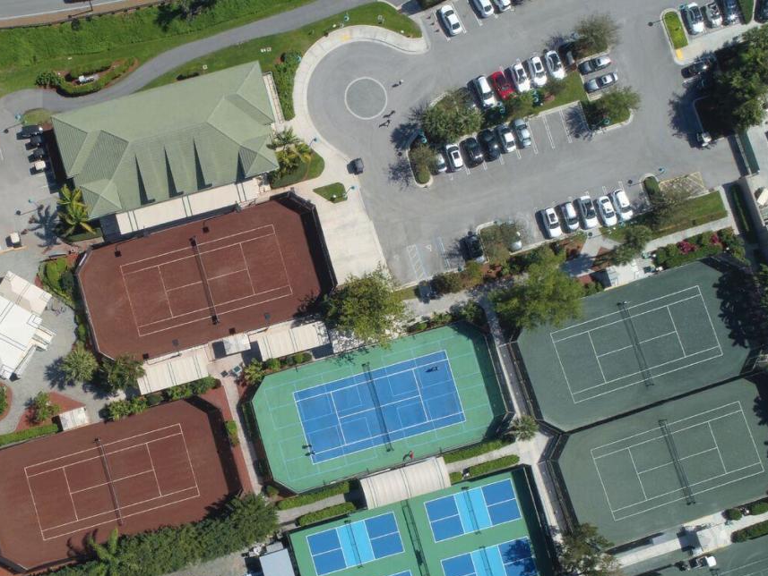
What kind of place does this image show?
sports ground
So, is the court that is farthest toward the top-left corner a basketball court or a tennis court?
tennis court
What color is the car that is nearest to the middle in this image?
black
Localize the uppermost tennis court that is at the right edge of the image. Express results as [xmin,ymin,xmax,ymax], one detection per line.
[524,262,758,428]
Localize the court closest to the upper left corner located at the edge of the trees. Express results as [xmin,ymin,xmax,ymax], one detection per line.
[79,197,333,364]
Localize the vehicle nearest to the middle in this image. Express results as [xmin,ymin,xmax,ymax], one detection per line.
[462,231,485,265]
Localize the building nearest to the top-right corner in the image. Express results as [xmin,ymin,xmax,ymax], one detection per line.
[732,131,761,175]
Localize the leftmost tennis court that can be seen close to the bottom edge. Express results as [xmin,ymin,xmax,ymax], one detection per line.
[0,395,241,570]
